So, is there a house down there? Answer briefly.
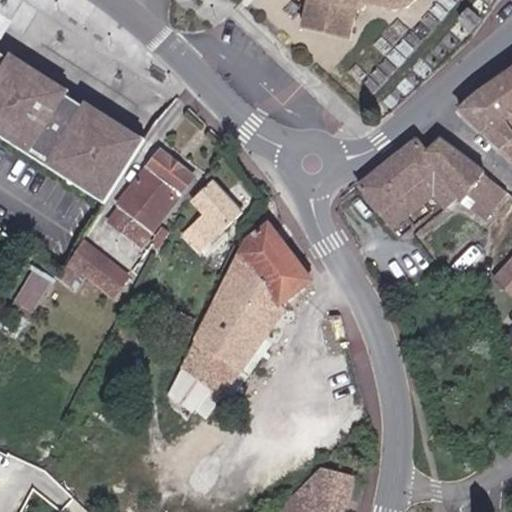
Yes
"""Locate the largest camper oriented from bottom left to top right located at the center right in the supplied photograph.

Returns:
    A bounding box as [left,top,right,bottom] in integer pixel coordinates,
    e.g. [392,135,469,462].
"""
[453,244,482,272]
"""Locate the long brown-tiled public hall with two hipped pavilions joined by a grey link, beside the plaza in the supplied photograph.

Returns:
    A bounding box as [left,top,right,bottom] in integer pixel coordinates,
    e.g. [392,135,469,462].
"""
[0,52,145,204]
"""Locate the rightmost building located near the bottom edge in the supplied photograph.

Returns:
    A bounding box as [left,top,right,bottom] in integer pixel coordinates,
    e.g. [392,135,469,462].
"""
[278,466,355,512]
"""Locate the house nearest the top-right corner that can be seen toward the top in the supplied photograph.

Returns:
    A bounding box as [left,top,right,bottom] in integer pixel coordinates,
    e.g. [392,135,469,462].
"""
[458,68,512,150]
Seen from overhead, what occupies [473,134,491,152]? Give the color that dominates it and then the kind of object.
white car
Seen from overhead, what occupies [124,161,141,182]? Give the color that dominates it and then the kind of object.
white vehicle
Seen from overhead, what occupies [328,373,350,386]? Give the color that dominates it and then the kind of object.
white vehicle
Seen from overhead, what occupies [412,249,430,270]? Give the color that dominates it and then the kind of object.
white car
